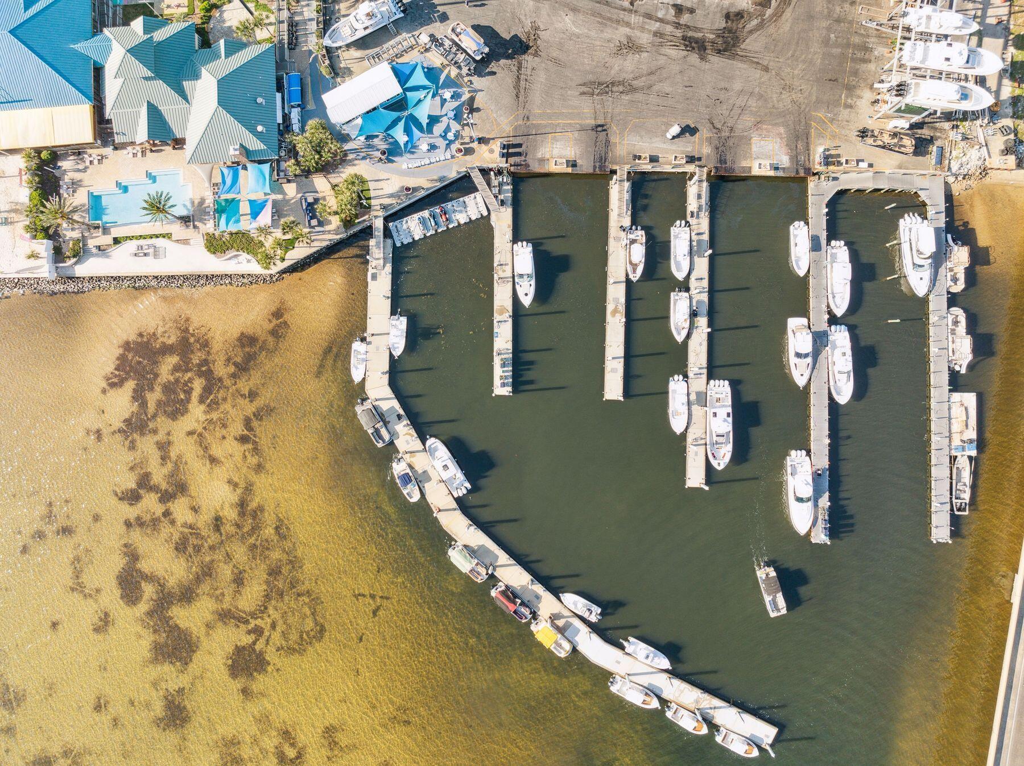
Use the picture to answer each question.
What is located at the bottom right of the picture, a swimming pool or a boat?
boat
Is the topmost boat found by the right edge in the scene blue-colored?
No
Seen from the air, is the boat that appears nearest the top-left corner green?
No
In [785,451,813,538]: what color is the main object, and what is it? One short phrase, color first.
white boat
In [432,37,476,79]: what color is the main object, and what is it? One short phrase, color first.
gray boat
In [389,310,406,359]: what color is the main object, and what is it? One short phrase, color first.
white boat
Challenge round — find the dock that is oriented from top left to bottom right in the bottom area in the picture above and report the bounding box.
[365,239,777,749]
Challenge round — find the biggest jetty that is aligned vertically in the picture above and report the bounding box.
[803,168,954,546]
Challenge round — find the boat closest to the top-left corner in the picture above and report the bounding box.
[321,0,406,50]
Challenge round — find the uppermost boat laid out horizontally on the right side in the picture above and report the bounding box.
[894,8,985,41]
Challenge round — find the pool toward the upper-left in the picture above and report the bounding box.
[84,165,195,228]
